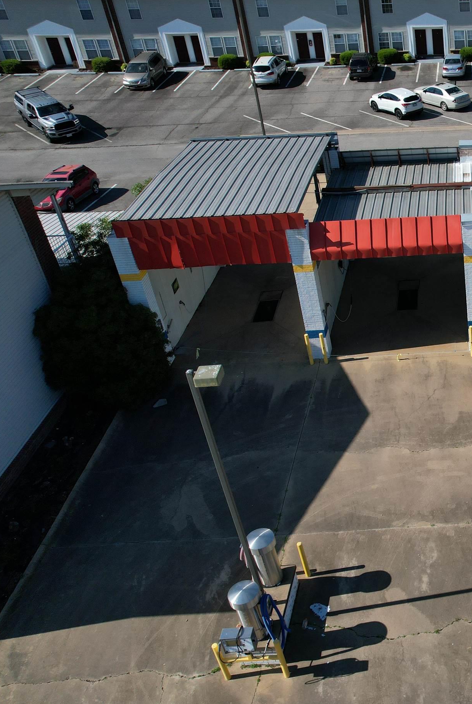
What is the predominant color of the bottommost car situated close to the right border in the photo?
white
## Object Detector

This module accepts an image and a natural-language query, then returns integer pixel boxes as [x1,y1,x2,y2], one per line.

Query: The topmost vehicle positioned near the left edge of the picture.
[16,81,94,141]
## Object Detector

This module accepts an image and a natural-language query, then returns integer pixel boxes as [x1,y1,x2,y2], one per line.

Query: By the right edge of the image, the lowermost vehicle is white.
[416,79,472,111]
